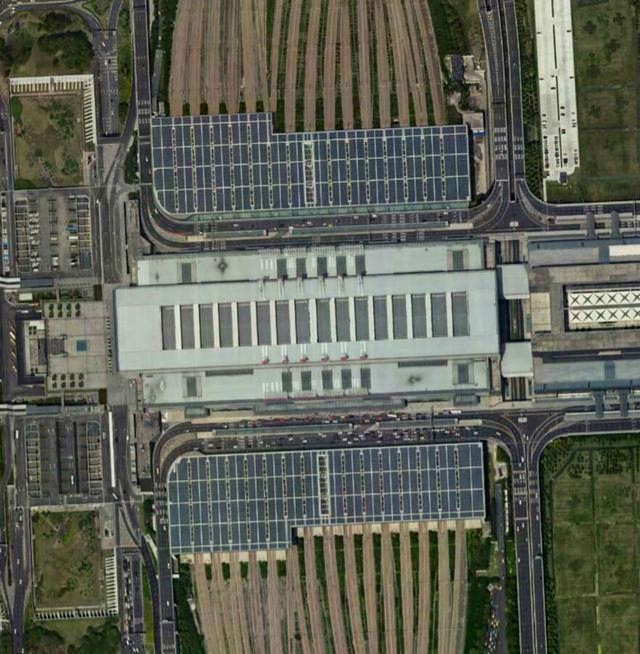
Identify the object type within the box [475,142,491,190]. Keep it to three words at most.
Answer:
shed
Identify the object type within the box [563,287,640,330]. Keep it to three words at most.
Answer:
building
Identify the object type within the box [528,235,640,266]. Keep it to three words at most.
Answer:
building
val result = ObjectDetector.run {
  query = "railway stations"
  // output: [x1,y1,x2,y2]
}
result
[113,239,501,406]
